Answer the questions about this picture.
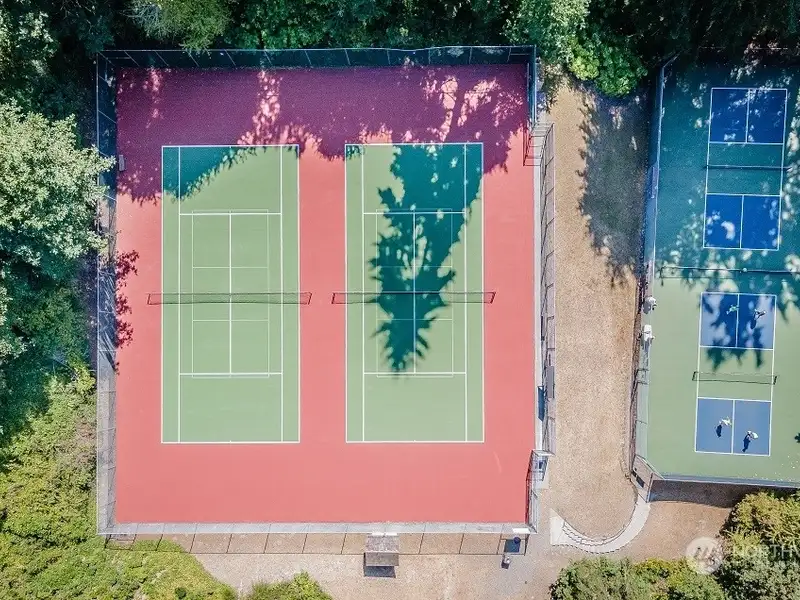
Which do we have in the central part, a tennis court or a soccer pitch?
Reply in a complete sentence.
What appears in the central part is a tennis court.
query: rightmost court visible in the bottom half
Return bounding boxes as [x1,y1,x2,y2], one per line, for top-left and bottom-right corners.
[695,292,778,459]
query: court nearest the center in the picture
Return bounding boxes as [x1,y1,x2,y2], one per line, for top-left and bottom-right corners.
[345,143,484,443]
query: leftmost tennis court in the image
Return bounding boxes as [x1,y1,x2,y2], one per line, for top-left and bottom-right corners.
[162,145,299,443]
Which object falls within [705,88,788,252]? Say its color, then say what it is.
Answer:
blue sports court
